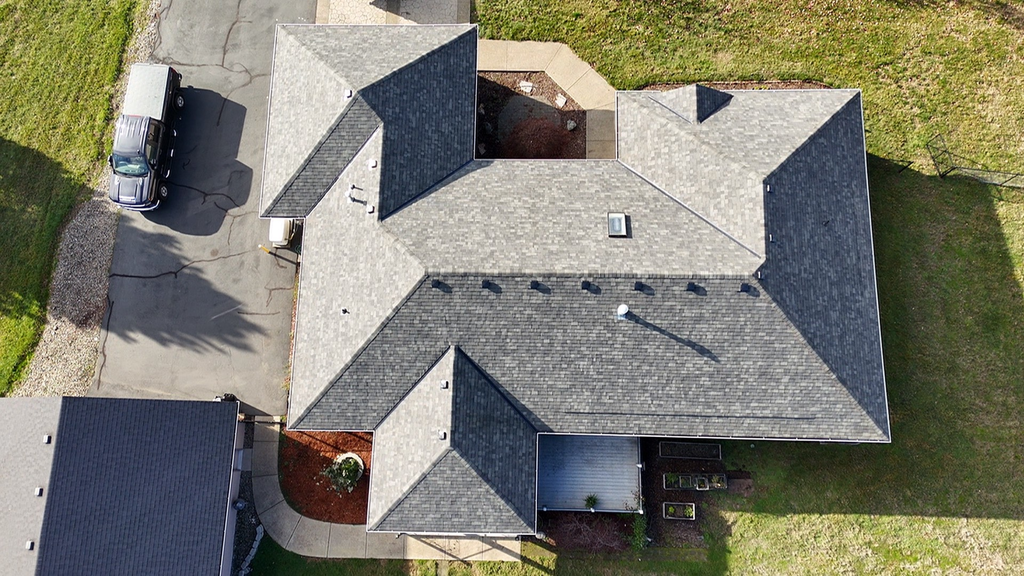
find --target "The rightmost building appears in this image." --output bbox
[257,24,891,540]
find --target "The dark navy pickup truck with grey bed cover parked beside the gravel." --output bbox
[104,61,183,210]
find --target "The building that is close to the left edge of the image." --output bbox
[0,395,245,576]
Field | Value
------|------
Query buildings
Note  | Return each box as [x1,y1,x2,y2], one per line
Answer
[0,395,245,576]
[257,24,891,540]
